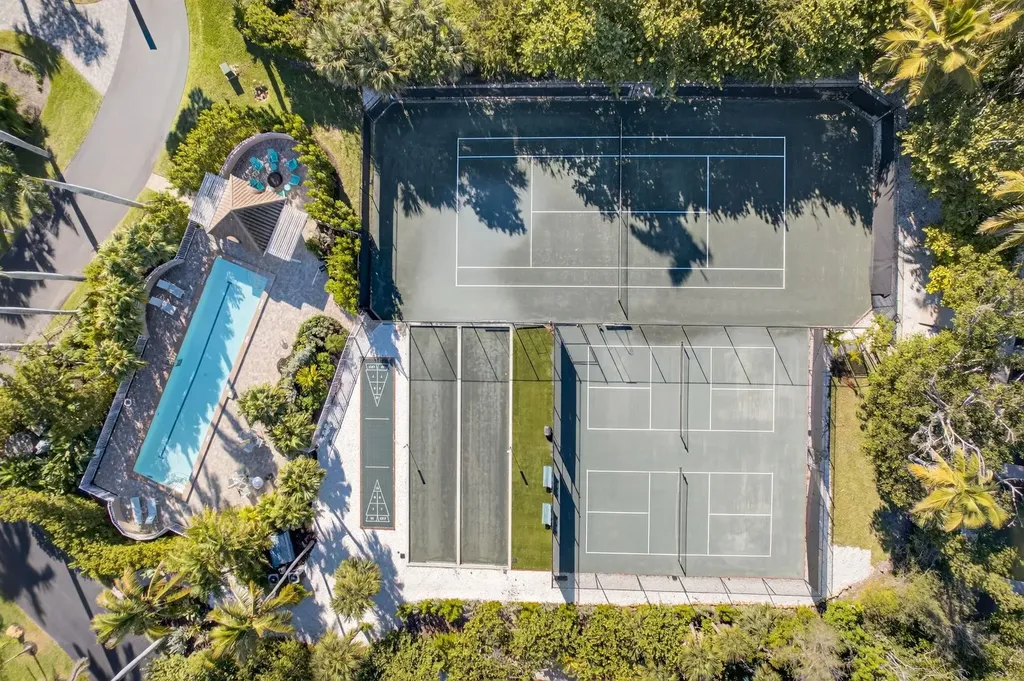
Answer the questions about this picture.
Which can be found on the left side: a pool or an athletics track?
pool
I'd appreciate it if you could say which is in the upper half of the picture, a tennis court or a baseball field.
tennis court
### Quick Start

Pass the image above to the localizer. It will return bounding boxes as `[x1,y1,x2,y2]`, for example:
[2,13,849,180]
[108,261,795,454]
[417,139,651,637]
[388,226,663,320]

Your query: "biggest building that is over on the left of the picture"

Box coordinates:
[184,168,315,262]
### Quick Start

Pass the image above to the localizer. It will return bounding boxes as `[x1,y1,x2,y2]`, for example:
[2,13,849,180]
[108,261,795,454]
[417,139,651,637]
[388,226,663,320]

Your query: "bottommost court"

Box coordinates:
[554,450,807,580]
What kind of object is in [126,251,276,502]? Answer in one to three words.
swimming pool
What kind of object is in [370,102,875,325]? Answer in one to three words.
tennis court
